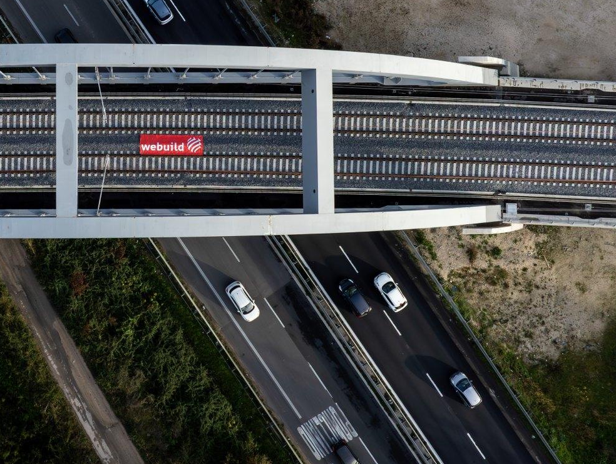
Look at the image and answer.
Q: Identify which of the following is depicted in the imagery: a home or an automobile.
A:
automobile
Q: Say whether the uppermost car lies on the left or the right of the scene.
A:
left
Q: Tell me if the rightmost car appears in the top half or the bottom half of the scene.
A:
bottom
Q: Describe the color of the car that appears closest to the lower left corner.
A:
white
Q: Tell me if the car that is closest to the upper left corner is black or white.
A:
black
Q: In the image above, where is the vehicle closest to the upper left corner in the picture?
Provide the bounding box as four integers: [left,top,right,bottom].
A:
[53,25,80,45]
